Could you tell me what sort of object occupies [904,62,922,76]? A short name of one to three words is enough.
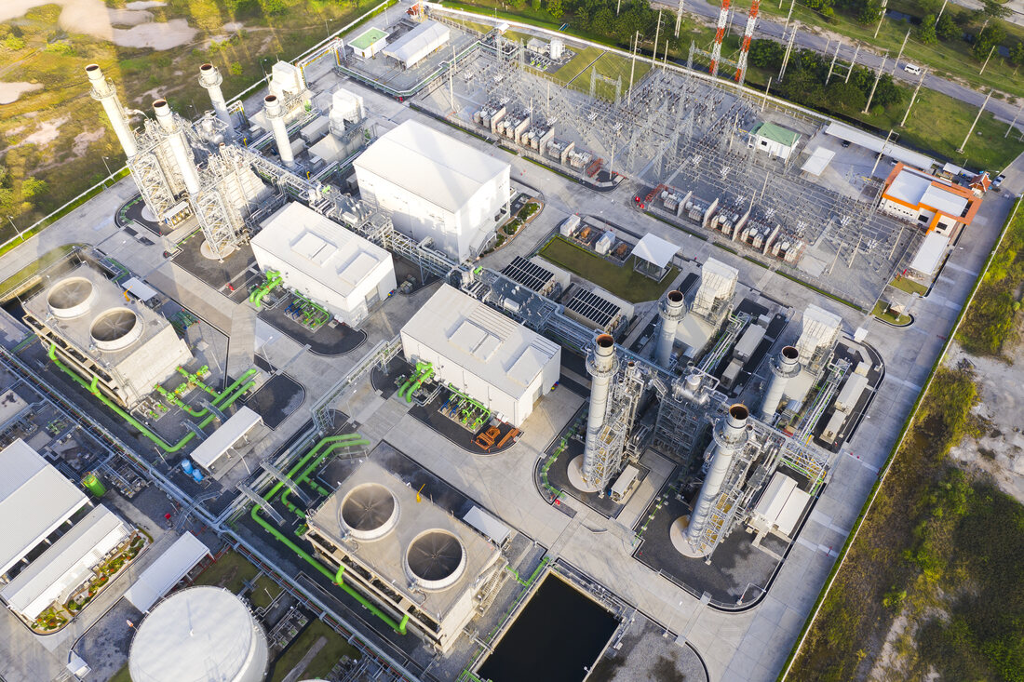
vehicle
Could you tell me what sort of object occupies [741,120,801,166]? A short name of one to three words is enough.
building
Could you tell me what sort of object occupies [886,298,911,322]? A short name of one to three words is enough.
gazebo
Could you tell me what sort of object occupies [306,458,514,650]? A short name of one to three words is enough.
cooling tower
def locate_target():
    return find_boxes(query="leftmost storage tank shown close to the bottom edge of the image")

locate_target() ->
[120,581,272,682]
